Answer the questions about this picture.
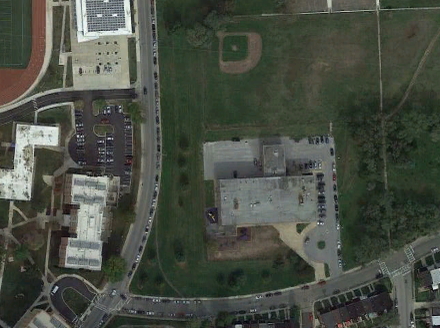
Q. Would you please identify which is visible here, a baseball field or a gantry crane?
baseball field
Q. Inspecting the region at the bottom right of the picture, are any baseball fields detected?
No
